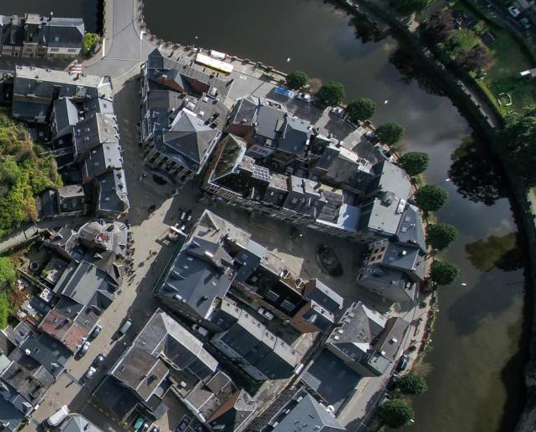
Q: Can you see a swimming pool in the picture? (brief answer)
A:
No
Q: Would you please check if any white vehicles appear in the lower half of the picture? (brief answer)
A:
Yes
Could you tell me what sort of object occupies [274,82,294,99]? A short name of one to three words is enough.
vehicle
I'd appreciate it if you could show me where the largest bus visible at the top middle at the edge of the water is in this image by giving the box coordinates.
[192,47,236,76]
